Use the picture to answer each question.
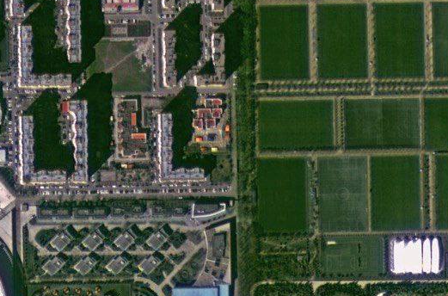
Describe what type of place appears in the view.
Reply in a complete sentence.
What you see here is a sports ground.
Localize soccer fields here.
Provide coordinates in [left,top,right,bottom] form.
[319,157,367,232]
[316,4,367,80]
[425,98,448,151]
[257,158,307,234]
[371,156,420,231]
[435,154,448,229]
[432,2,448,75]
[258,100,333,150]
[373,3,424,79]
[259,4,308,81]
[345,99,420,150]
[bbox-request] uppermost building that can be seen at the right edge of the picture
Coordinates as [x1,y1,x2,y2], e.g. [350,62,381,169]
[389,237,444,277]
